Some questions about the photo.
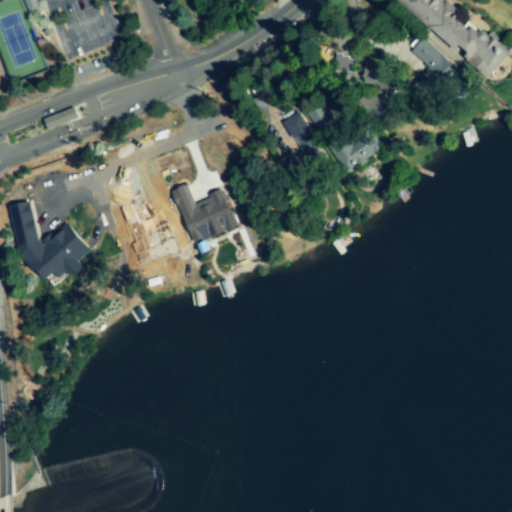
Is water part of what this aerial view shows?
Yes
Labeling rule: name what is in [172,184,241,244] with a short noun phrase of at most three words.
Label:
house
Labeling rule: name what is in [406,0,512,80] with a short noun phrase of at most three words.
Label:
house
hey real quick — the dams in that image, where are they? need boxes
[13,448,164,512]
